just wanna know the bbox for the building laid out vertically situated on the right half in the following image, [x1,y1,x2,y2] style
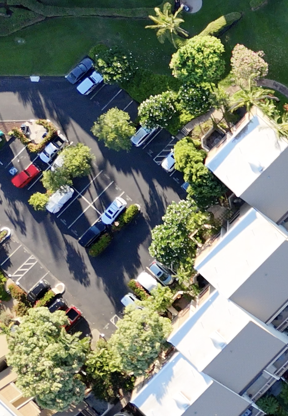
[129,111,288,416]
